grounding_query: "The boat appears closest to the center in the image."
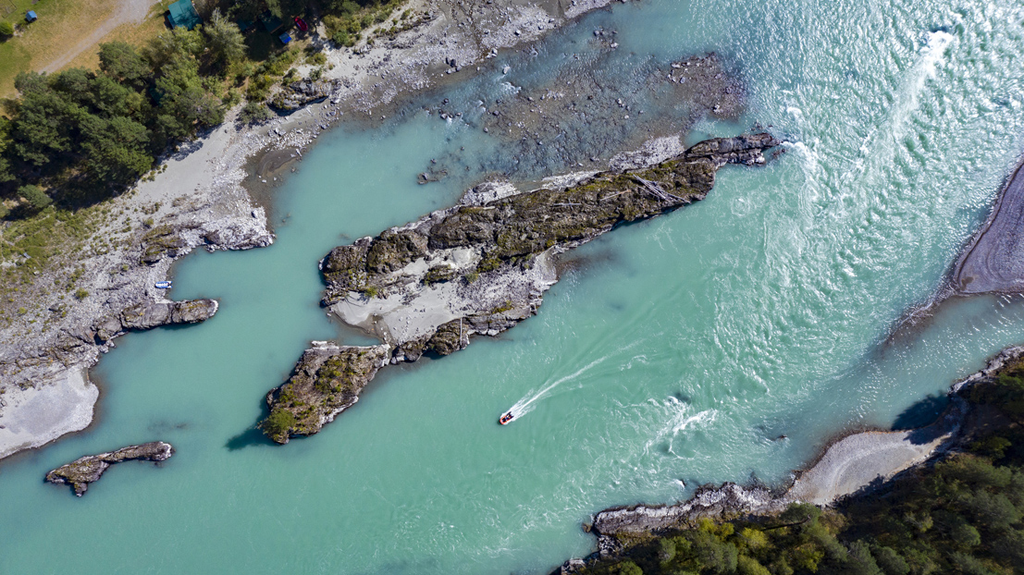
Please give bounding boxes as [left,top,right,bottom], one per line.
[500,410,516,425]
